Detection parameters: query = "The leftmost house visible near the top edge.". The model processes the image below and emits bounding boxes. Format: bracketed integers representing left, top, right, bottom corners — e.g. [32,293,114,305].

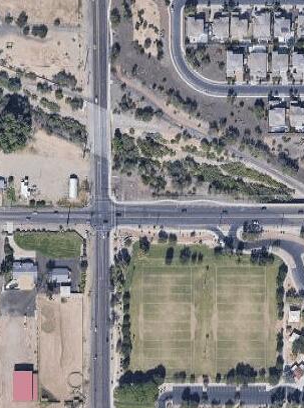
[187,14,204,46]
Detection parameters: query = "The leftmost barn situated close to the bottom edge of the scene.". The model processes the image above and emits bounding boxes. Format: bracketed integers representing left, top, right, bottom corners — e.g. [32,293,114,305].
[14,371,32,400]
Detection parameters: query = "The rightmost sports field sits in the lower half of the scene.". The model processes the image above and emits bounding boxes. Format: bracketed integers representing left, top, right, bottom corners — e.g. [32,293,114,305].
[216,265,265,374]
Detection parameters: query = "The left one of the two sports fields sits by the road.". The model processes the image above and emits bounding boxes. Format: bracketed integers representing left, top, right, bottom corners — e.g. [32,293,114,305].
[143,265,192,374]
